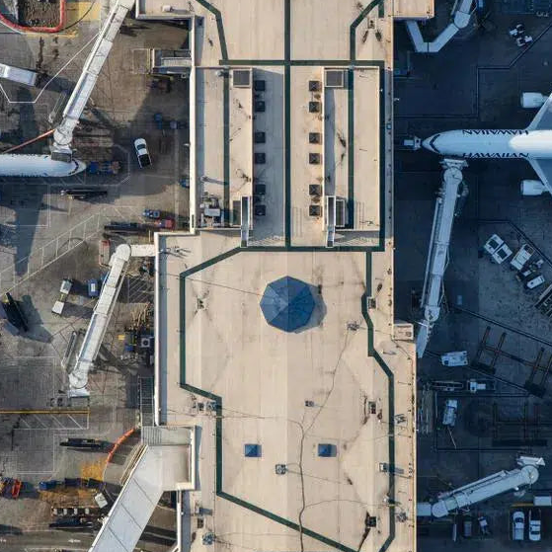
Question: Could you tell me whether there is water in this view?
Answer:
No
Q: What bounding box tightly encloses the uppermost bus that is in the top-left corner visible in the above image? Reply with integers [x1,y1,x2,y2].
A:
[0,62,41,87]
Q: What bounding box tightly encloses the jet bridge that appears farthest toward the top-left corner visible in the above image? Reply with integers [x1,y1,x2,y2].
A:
[51,0,130,163]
